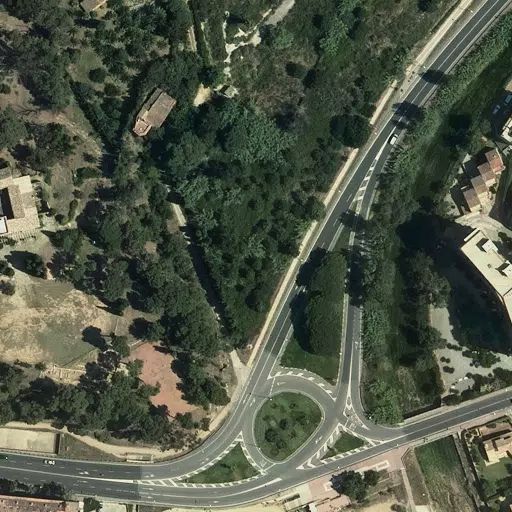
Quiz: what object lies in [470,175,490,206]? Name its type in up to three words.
house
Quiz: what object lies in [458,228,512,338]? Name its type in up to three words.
building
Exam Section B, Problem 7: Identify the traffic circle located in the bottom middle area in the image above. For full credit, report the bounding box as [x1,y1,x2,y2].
[248,380,334,473]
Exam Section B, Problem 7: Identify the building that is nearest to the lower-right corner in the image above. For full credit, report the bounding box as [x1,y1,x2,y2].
[483,432,512,466]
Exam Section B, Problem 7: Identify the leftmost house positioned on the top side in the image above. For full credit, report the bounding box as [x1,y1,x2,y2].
[0,166,40,234]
